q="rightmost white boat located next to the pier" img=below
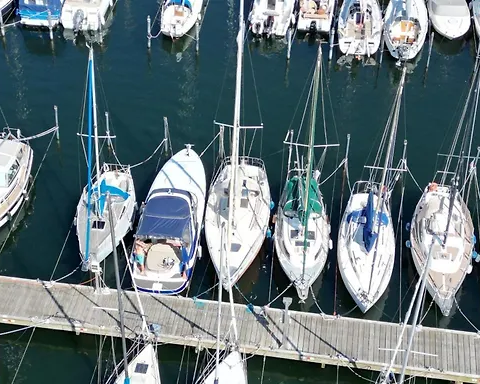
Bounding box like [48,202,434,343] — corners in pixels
[409,34,480,318]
